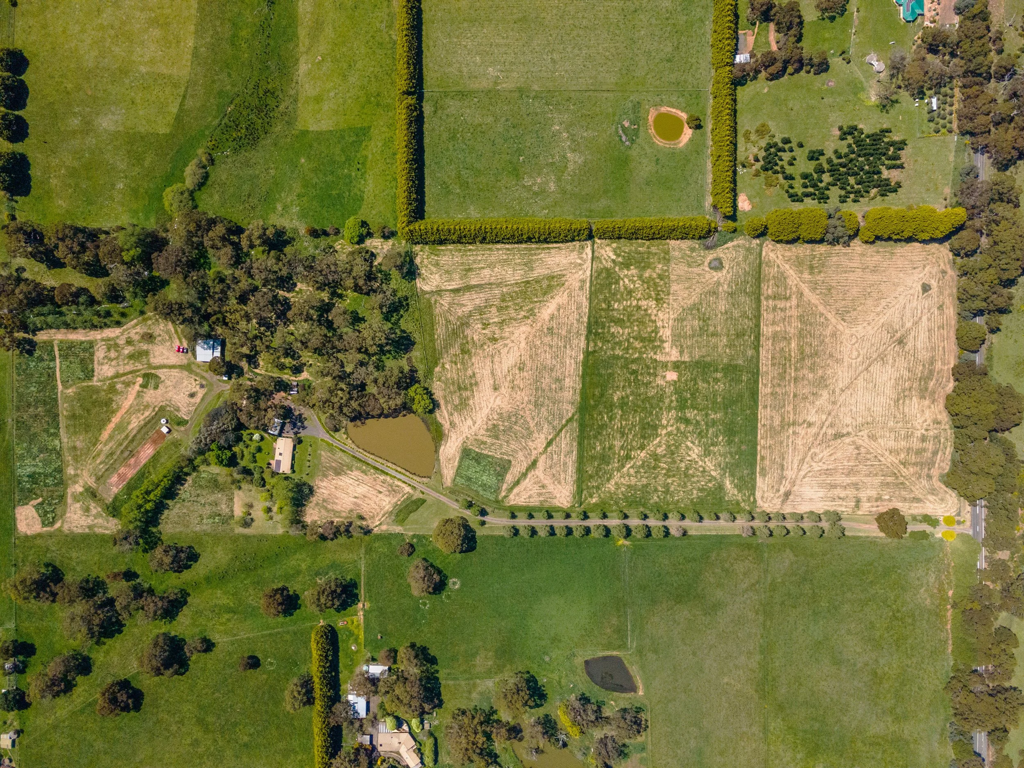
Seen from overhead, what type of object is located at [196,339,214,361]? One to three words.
shed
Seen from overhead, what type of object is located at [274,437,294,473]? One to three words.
house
